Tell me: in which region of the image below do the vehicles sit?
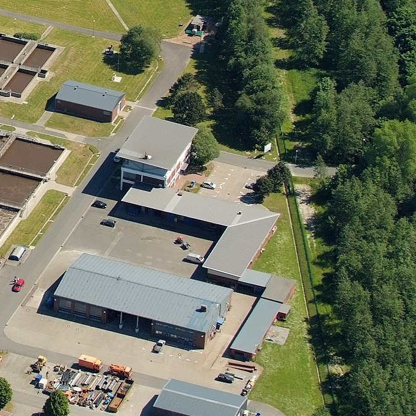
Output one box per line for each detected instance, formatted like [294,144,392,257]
[15,280,24,290]
[243,181,256,189]
[217,374,234,382]
[101,218,116,226]
[31,355,48,371]
[176,234,185,242]
[154,339,165,351]
[93,201,107,207]
[109,364,132,377]
[79,353,102,370]
[202,181,217,188]
[187,251,205,262]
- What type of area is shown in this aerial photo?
industrial area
